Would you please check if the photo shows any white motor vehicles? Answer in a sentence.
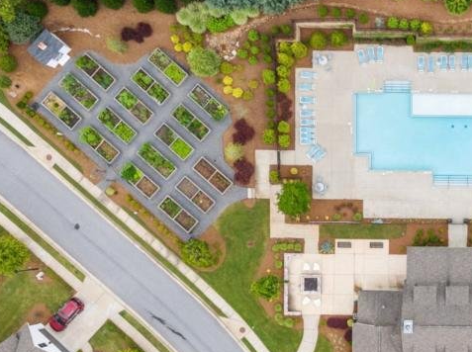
No, no white motor vehicle is visible in the scene.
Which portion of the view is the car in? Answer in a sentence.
The car is in the bottom left part of the image.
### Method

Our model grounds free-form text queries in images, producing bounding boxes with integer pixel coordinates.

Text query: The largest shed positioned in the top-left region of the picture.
[20,23,70,75]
